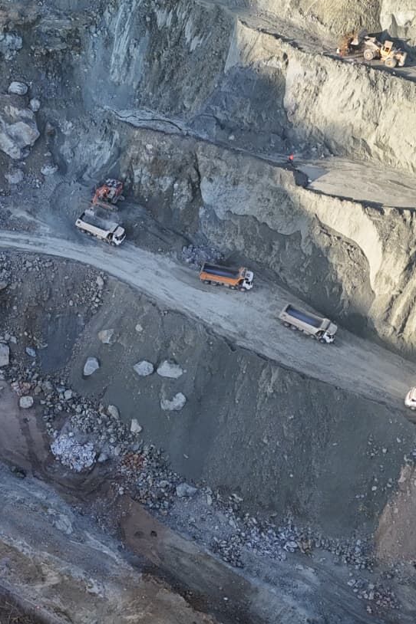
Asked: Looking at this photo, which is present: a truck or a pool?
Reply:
truck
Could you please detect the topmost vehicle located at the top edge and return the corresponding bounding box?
[352,25,411,68]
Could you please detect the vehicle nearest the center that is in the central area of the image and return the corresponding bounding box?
[200,260,259,291]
